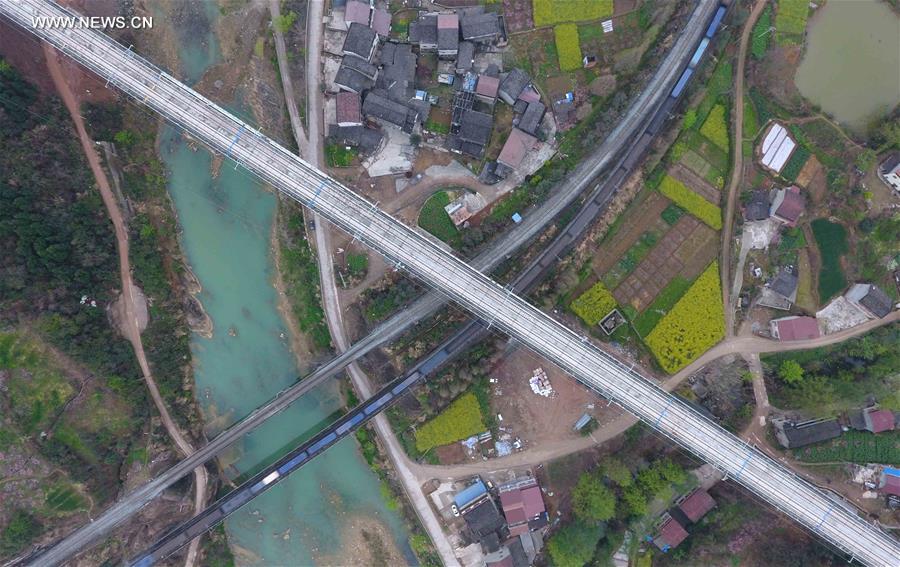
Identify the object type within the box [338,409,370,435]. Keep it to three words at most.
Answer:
rail car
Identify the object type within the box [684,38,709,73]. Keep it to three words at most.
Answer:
rail car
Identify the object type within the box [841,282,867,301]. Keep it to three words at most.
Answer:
shed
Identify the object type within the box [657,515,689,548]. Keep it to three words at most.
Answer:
house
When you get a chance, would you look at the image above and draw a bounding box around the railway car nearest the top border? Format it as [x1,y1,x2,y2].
[701,6,724,41]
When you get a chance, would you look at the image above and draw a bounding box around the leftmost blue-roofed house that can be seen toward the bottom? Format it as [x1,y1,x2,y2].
[454,476,488,508]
